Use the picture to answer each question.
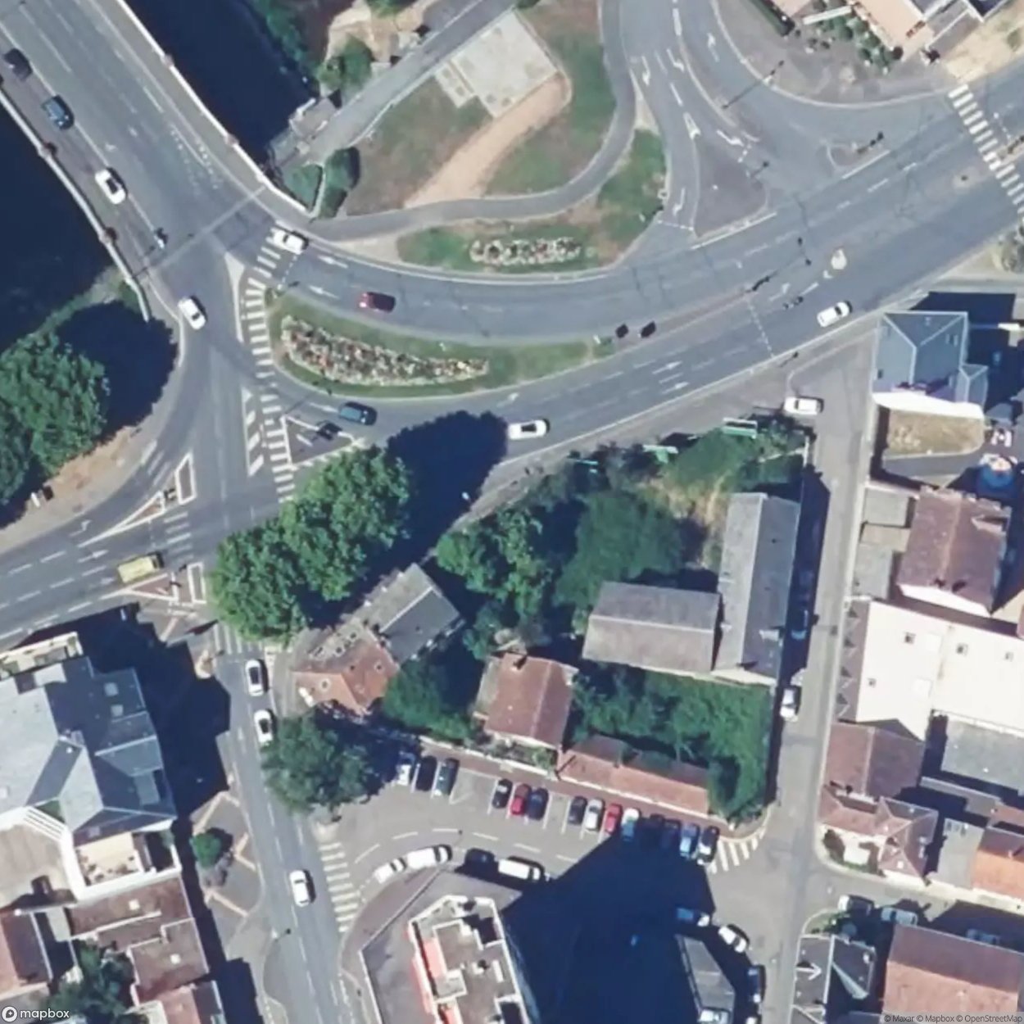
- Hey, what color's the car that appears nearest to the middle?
white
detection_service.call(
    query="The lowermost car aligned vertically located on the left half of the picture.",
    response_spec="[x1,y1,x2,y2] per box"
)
[292,870,311,905]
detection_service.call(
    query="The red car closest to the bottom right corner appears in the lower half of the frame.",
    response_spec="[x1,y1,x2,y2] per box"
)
[602,802,622,836]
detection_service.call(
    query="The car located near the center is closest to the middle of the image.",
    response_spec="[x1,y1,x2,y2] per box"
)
[509,419,548,439]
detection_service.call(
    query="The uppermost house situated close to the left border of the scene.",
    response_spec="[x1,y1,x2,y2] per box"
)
[0,657,175,848]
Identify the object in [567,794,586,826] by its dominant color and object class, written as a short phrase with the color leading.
gray car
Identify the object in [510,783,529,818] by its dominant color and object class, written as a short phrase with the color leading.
red car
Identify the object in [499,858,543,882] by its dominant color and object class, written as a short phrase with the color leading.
white vehicle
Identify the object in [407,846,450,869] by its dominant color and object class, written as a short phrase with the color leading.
white vehicle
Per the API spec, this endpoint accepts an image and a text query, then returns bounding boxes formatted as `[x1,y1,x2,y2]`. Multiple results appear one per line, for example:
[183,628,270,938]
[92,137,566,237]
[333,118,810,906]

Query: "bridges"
[0,0,360,267]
